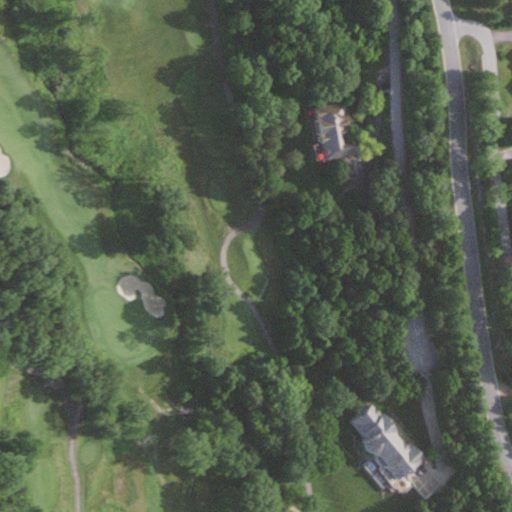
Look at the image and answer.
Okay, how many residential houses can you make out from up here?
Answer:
2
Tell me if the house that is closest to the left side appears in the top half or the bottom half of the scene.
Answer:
top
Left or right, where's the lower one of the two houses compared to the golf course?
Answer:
to the right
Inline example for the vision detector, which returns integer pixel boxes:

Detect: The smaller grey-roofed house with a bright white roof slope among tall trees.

[318,106,352,154]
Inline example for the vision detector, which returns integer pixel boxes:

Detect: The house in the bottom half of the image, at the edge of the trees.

[352,405,430,481]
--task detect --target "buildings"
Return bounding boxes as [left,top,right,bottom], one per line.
[352,405,430,481]
[318,106,352,154]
